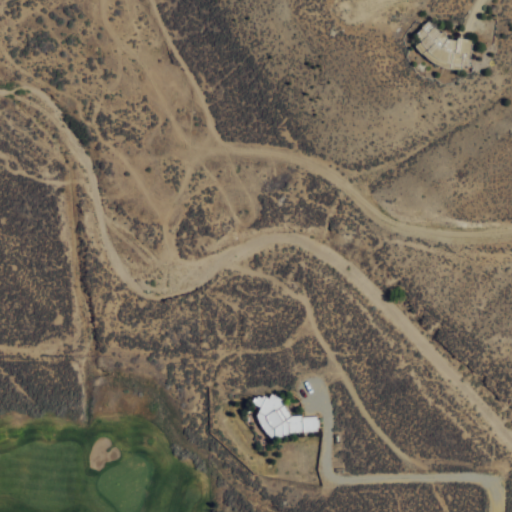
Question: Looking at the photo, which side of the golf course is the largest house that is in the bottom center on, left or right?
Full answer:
Looking at the picture, you'll find the largest house that is in the bottom center to the right of the golf course.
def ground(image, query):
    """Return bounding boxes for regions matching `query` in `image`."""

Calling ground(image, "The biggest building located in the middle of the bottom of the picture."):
[253,394,320,438]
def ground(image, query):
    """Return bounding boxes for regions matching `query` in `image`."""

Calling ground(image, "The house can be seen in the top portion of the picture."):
[416,21,474,69]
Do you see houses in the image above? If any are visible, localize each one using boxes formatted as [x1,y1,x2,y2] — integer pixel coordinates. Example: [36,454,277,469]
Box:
[253,394,320,438]
[416,21,474,69]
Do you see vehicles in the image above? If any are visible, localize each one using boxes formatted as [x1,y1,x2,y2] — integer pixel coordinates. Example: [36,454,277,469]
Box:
[305,382,314,394]
[300,388,306,398]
